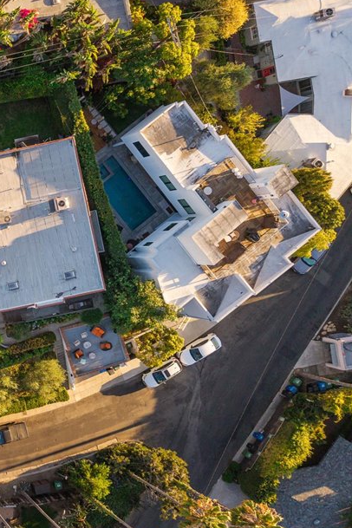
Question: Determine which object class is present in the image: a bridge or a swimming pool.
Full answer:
The image shows a swimming pool.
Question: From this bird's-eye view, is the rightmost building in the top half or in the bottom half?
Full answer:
You can find the rightmost building in the bottom half.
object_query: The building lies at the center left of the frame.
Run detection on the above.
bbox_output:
[0,136,106,310]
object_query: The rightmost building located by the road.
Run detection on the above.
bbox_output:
[310,332,352,373]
